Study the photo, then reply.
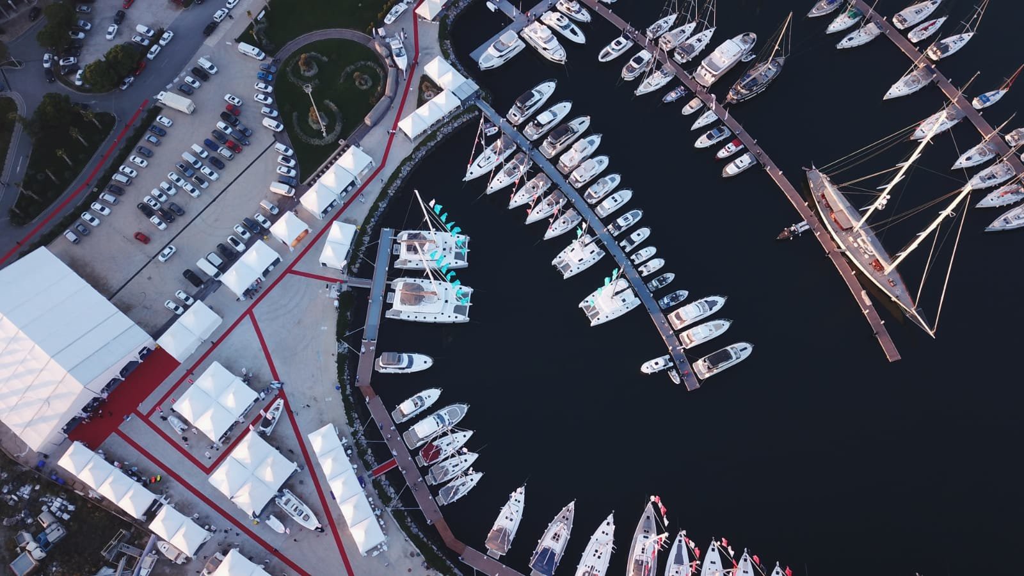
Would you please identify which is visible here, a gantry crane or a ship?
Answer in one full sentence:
This aerial view contains a ship.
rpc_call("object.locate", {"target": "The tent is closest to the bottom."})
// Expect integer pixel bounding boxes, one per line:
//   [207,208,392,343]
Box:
[207,549,274,576]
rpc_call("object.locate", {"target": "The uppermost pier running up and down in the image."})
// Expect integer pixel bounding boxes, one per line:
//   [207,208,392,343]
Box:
[363,228,395,341]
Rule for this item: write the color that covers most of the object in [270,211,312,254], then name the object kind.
white tent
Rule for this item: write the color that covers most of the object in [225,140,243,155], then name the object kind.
red car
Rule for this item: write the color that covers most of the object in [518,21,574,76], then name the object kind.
white boat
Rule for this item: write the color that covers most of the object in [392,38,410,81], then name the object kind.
white boat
